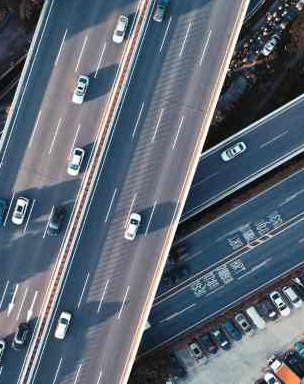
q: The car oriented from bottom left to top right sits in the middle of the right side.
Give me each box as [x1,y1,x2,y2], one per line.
[220,141,247,161]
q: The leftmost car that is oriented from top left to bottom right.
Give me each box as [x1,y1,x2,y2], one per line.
[185,337,207,363]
